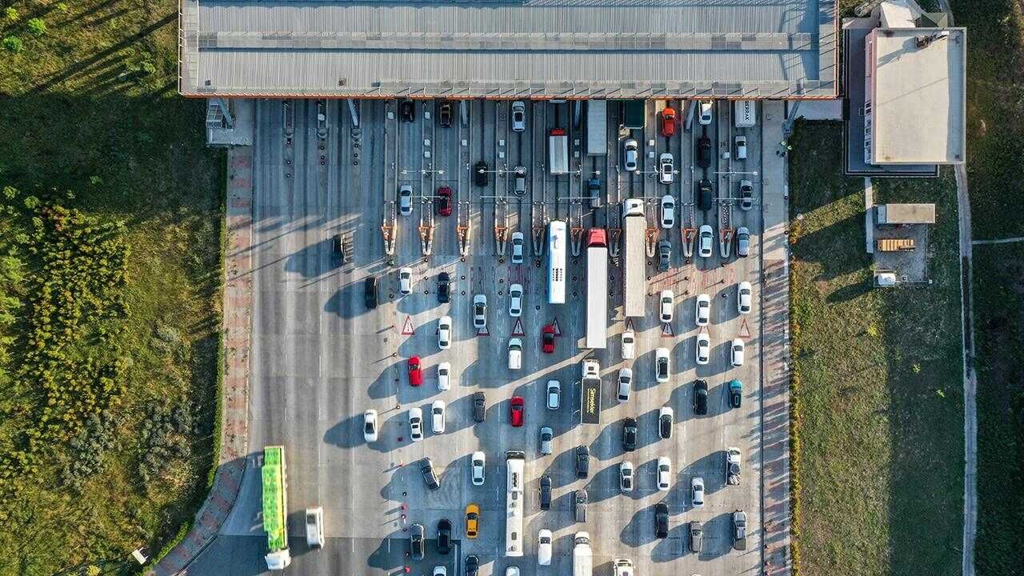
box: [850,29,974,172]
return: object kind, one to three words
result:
building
